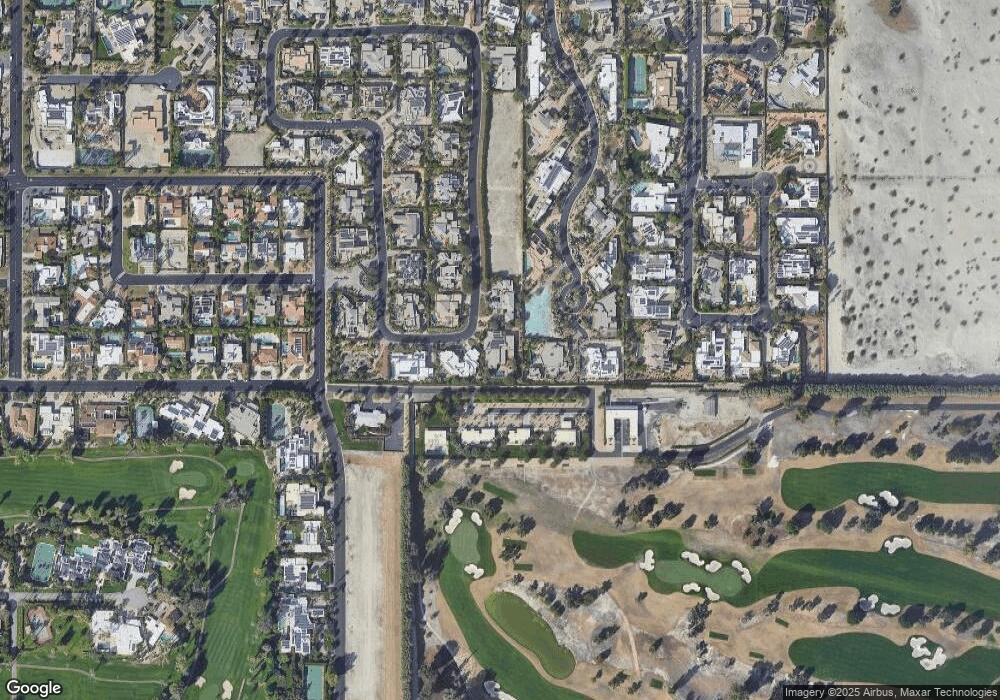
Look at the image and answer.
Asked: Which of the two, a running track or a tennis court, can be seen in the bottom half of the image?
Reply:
tennis court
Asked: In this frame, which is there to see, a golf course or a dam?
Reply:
golf course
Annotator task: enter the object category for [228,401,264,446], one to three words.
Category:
house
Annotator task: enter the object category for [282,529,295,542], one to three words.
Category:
swimming pool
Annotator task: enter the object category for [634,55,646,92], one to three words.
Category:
tennis court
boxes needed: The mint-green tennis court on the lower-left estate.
[30,543,57,582]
